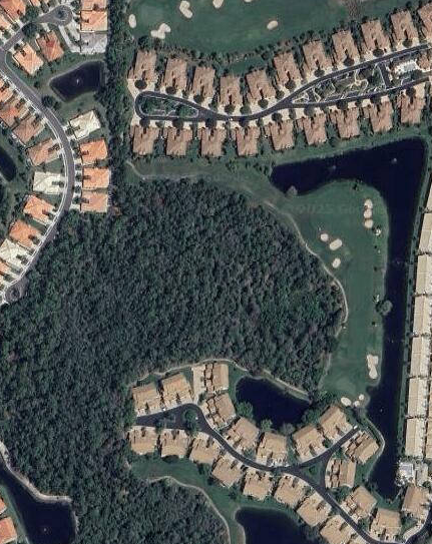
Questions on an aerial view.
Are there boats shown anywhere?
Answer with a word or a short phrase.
No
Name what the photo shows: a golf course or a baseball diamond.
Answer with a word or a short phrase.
golf course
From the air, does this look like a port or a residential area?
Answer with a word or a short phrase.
residential area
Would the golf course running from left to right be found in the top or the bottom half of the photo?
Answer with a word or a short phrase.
top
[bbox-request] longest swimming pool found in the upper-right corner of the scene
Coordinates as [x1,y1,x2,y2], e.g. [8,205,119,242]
[395,60,418,73]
